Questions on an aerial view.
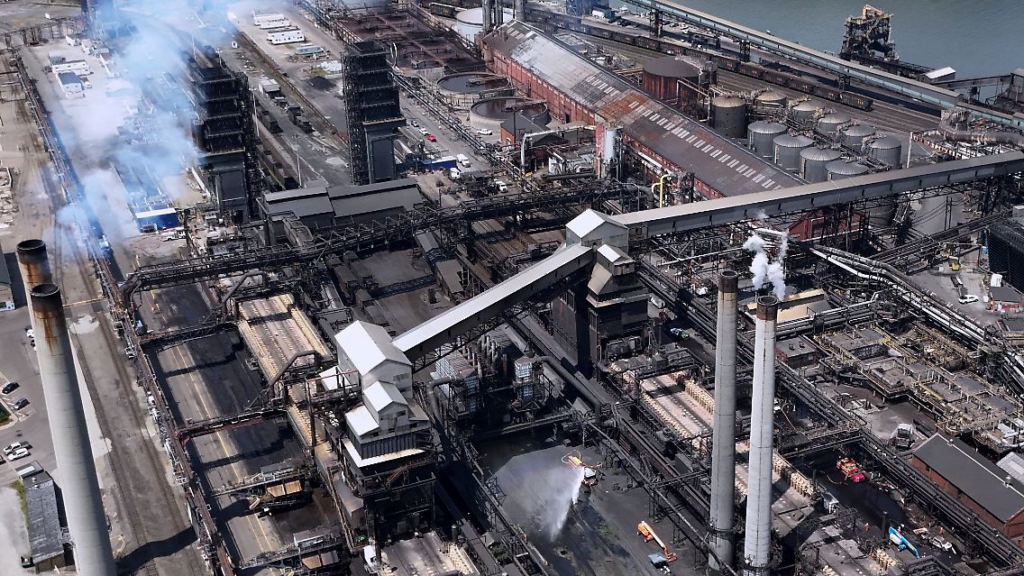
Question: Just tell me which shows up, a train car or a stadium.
train car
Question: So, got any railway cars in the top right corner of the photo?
Yes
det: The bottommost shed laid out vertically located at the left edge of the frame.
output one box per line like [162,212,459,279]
[24,482,66,576]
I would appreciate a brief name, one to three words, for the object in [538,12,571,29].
rail car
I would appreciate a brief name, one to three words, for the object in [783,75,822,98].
rail car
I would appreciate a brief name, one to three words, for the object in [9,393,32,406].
vehicle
